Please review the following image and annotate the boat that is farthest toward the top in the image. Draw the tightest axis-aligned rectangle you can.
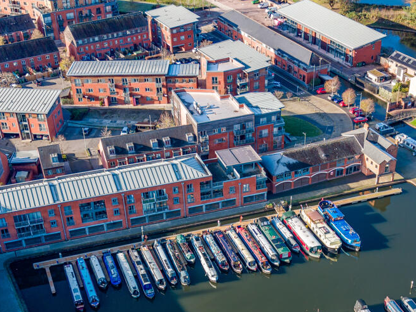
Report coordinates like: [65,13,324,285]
[376,120,397,135]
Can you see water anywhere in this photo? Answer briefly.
Yes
